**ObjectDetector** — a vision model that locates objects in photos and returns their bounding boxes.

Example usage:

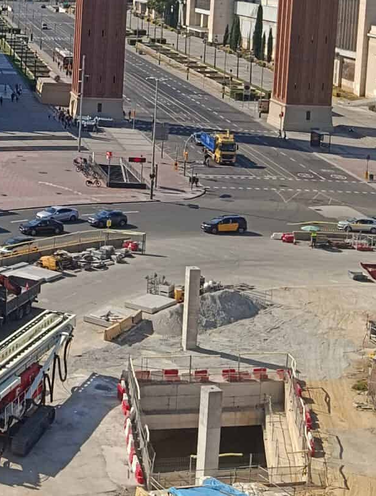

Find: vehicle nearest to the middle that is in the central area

[200,211,249,233]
